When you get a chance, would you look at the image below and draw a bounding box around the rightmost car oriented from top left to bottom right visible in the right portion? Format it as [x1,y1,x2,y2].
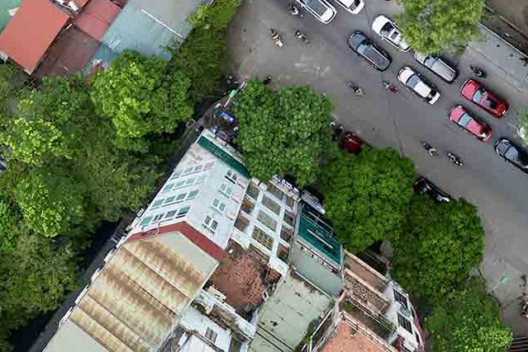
[491,134,528,177]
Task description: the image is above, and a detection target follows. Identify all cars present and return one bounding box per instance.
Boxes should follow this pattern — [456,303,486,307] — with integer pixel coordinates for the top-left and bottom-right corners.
[458,74,512,123]
[411,172,458,210]
[370,13,415,56]
[394,62,444,110]
[293,0,339,27]
[491,134,528,177]
[346,27,396,75]
[446,101,496,146]
[334,0,368,18]
[334,118,377,159]
[411,45,461,87]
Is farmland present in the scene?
No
